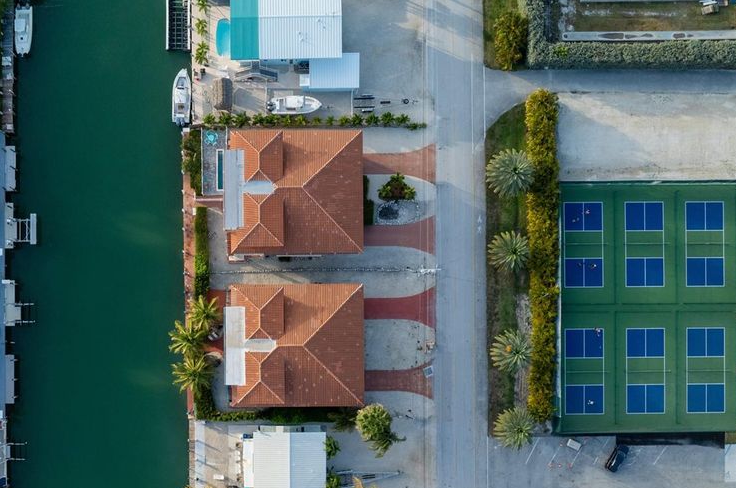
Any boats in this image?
Yes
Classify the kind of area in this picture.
residential area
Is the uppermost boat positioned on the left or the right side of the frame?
left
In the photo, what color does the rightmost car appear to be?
black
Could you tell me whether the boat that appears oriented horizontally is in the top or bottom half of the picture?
top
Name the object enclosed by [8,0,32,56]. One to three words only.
boat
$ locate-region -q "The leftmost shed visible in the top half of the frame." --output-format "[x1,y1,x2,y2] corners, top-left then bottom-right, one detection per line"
[210,71,233,108]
